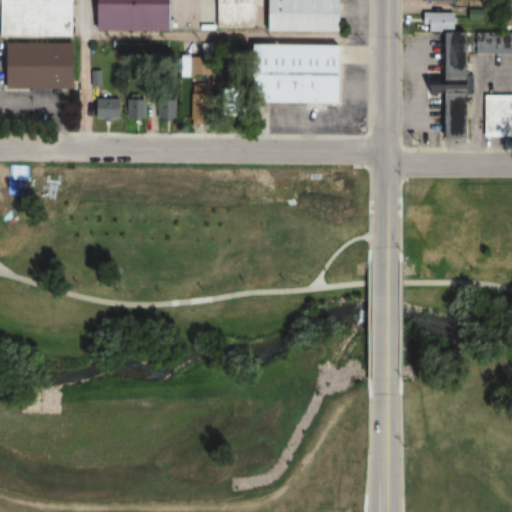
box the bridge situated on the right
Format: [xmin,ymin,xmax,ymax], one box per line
[368,250,404,394]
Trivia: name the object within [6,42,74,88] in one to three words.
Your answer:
building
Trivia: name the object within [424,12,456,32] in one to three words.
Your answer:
house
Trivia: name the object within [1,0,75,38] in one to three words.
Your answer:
building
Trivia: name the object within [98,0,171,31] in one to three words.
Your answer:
shed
